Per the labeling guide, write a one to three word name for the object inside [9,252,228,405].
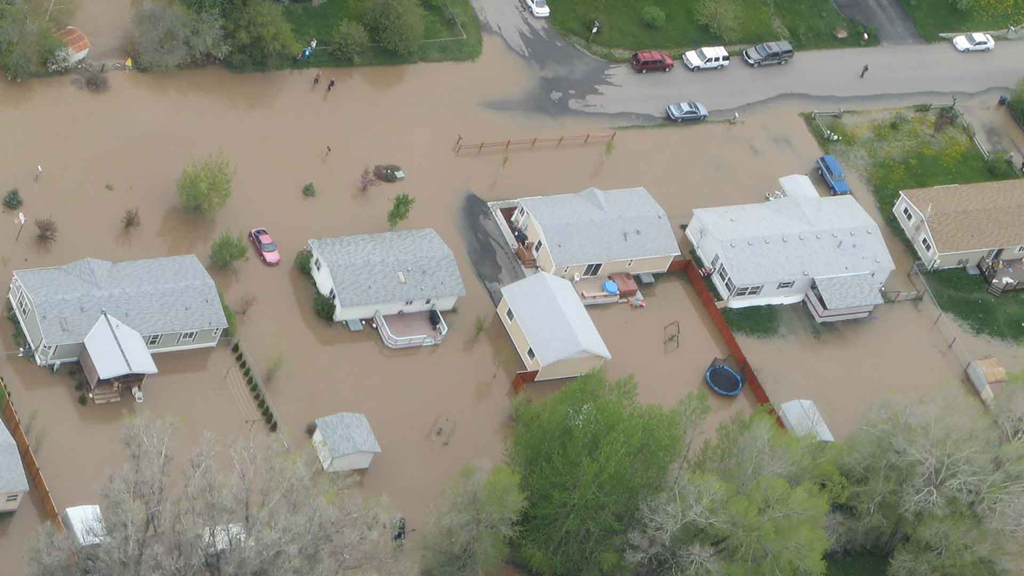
house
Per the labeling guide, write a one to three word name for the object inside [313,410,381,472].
shed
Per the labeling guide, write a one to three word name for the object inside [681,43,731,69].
car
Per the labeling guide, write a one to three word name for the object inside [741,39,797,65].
truck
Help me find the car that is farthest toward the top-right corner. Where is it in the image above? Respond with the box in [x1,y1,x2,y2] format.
[951,32,995,52]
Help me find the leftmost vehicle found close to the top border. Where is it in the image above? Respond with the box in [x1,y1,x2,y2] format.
[518,0,554,24]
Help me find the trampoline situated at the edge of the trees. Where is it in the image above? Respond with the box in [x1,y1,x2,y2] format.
[706,350,747,396]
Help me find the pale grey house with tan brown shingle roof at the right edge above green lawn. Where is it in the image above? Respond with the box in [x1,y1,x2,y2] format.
[893,179,1024,269]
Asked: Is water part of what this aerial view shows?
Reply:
Yes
